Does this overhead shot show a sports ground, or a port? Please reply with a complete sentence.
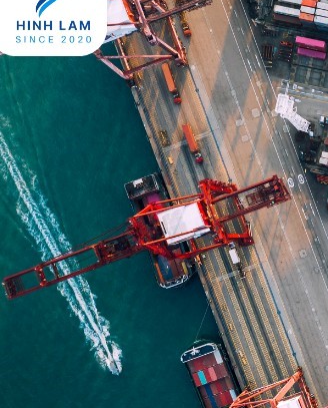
It's a port.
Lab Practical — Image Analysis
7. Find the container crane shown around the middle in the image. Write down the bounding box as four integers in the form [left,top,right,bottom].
[0,174,289,299]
